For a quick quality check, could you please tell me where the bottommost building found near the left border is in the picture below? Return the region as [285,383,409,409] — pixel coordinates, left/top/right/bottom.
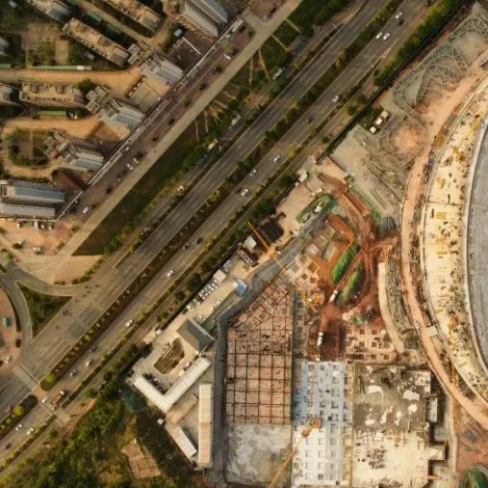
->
[0,180,65,218]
